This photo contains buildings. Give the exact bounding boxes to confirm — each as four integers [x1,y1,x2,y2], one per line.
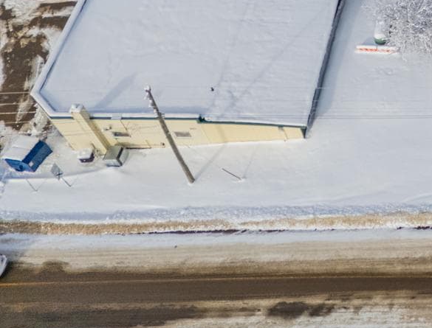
[28,0,342,153]
[0,128,58,180]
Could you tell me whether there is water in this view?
No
